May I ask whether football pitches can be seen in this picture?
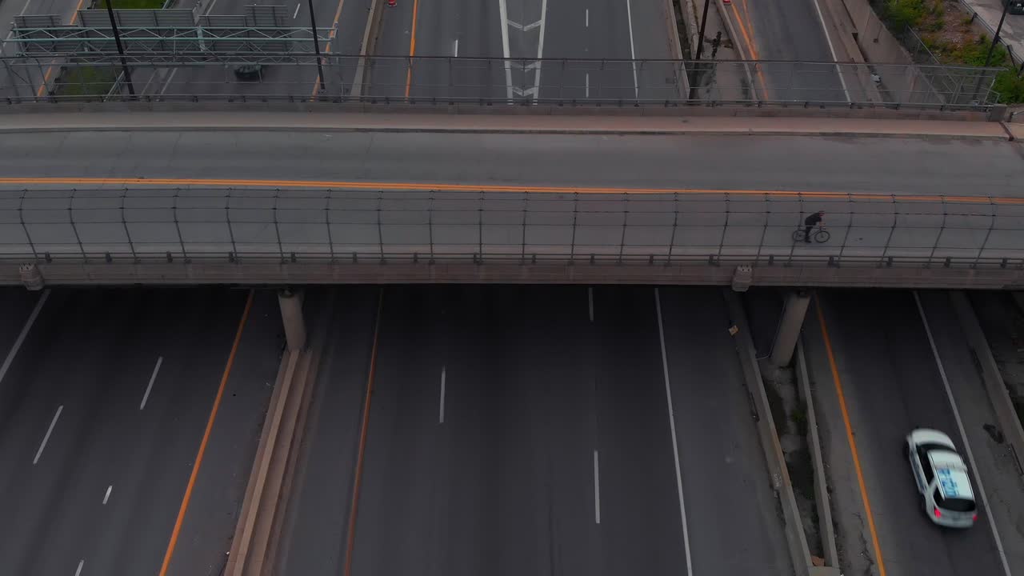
No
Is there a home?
No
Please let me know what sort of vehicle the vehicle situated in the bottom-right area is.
automobile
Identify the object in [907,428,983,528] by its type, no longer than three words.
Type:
car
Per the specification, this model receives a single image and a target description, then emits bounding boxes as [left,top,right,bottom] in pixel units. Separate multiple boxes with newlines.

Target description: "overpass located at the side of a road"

[0,101,1024,368]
